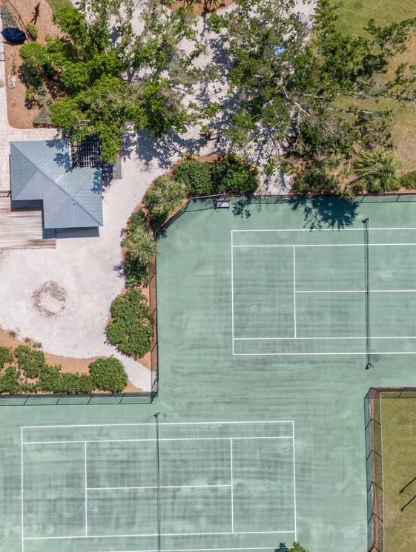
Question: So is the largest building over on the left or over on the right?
left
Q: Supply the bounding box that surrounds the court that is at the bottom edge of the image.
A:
[0,387,375,552]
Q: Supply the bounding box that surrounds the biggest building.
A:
[9,140,103,226]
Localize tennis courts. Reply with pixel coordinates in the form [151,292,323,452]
[0,387,375,552]
[156,193,416,392]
